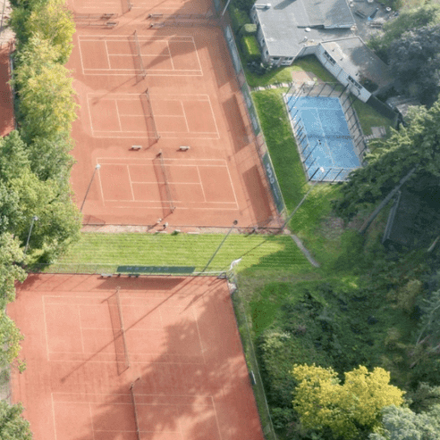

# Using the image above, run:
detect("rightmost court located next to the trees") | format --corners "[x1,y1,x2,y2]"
[281,80,374,185]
